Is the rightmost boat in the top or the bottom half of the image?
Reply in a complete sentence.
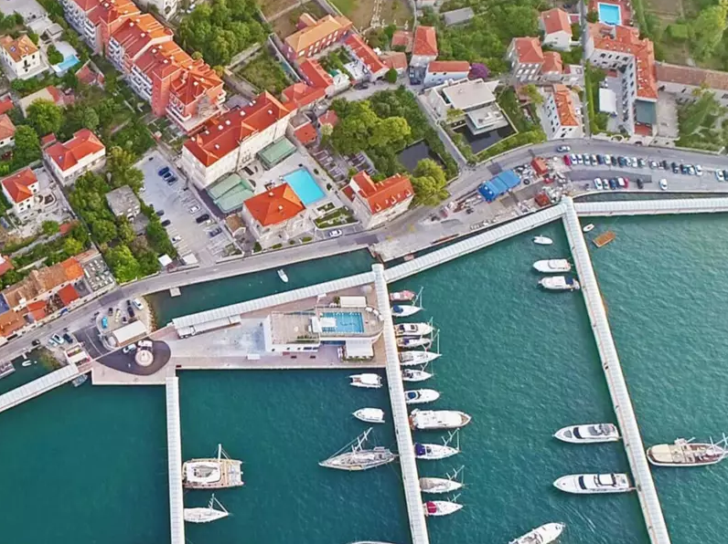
The bottom half of the photo is where the rightmost boat is.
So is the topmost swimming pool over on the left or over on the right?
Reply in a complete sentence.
It is on the right.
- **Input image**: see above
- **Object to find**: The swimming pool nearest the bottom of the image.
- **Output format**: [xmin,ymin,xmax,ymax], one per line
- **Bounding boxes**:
[322,312,365,333]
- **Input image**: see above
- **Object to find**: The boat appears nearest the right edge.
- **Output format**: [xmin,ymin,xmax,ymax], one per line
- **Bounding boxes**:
[646,438,728,464]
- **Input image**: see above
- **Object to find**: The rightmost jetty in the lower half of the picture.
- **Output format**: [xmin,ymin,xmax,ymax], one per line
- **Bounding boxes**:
[562,198,673,544]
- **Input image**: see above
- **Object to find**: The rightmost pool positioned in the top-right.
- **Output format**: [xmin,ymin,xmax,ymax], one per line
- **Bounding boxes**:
[598,2,623,24]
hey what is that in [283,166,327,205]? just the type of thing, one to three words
swimming pool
